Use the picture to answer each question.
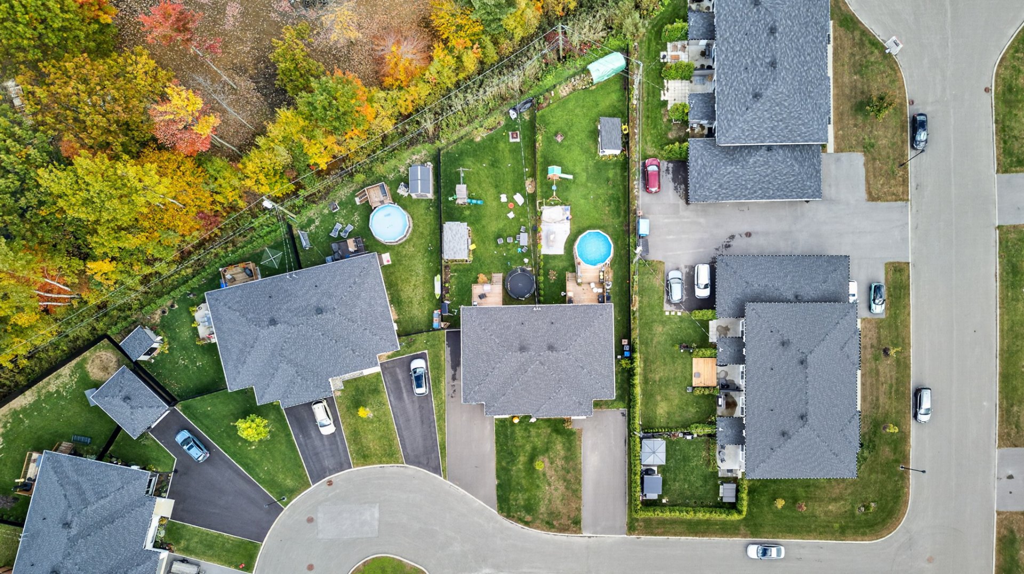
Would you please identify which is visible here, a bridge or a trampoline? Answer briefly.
trampoline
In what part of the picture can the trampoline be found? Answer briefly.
center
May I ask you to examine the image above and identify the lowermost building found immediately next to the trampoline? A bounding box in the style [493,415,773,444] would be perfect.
[461,304,616,417]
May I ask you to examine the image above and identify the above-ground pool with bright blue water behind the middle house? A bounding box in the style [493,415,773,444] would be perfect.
[575,229,613,267]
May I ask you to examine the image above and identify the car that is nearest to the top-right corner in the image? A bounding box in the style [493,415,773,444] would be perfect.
[909,112,930,151]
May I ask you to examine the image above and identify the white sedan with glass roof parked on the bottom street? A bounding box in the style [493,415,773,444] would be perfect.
[746,543,785,562]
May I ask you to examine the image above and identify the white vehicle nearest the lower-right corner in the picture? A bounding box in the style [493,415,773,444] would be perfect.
[912,387,934,423]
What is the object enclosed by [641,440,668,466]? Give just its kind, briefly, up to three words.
gazebo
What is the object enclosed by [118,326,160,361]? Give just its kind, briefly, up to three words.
shed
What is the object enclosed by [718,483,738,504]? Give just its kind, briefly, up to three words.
gazebo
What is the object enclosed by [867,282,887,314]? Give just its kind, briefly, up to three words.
car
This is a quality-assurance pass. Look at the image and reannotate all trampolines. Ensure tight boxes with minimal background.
[506,267,535,298]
